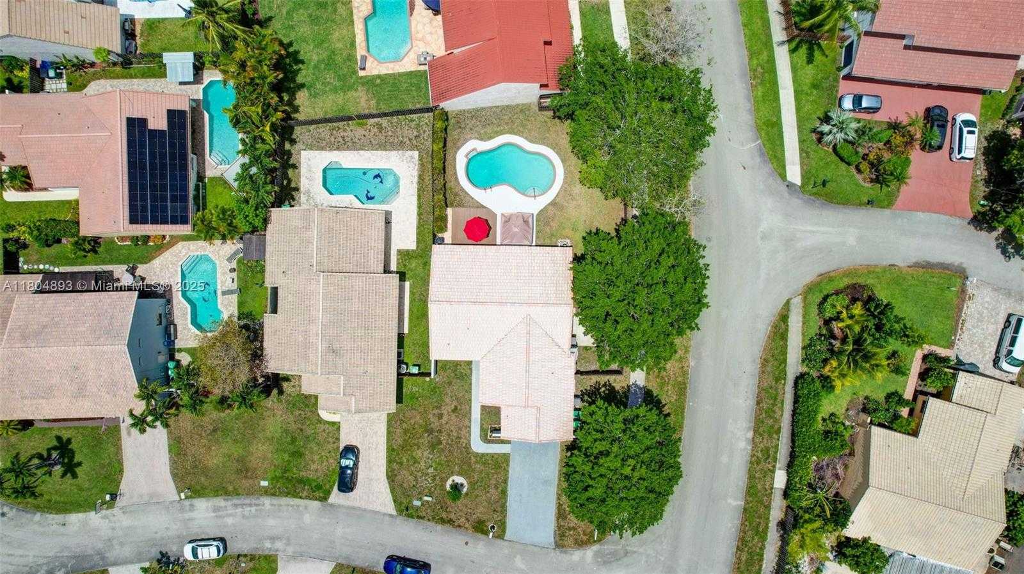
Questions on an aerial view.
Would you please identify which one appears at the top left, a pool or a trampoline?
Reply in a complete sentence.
You can see a pool at the top left.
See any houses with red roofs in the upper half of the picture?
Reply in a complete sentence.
Yes, a house with a red roof can be seen in the upper half of the picture.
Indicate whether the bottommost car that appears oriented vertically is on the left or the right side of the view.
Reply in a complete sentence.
The bottommost car that appears oriented vertically appears in the left half of the scene.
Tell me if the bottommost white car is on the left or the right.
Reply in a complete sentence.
The bottommost white car appears in the left half of the scene.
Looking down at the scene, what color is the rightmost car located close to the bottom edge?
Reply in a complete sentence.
In this view, the rightmost car located close to the bottom edge is blue.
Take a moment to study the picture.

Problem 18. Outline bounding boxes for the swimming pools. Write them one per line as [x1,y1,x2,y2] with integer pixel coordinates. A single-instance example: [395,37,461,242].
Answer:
[178,253,225,334]
[362,0,413,64]
[320,159,402,207]
[464,141,557,198]
[200,77,242,167]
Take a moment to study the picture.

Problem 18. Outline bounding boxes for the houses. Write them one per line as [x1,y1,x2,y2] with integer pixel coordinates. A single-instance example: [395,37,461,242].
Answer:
[428,0,573,109]
[0,89,200,235]
[832,371,1024,574]
[0,275,168,420]
[427,243,575,444]
[839,0,1024,92]
[263,207,400,413]
[0,0,131,60]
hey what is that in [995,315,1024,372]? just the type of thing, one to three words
van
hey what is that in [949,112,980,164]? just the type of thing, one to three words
car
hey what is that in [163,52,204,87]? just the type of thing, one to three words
shed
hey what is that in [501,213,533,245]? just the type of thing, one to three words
gazebo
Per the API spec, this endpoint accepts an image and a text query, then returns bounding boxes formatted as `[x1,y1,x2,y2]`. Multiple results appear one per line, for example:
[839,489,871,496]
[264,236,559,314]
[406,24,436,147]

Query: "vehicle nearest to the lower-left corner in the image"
[181,537,229,564]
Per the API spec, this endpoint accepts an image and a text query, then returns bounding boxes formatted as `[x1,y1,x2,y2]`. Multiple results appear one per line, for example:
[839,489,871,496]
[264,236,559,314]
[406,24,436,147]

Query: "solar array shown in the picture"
[126,109,189,224]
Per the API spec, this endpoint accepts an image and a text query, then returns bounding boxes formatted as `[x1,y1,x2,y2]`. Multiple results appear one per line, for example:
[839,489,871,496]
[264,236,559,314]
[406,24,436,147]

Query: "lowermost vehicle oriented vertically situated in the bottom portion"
[336,444,359,494]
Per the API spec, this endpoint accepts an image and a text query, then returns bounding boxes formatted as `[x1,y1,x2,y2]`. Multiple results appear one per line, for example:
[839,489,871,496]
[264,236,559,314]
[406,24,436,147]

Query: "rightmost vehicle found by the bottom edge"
[384,553,432,574]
